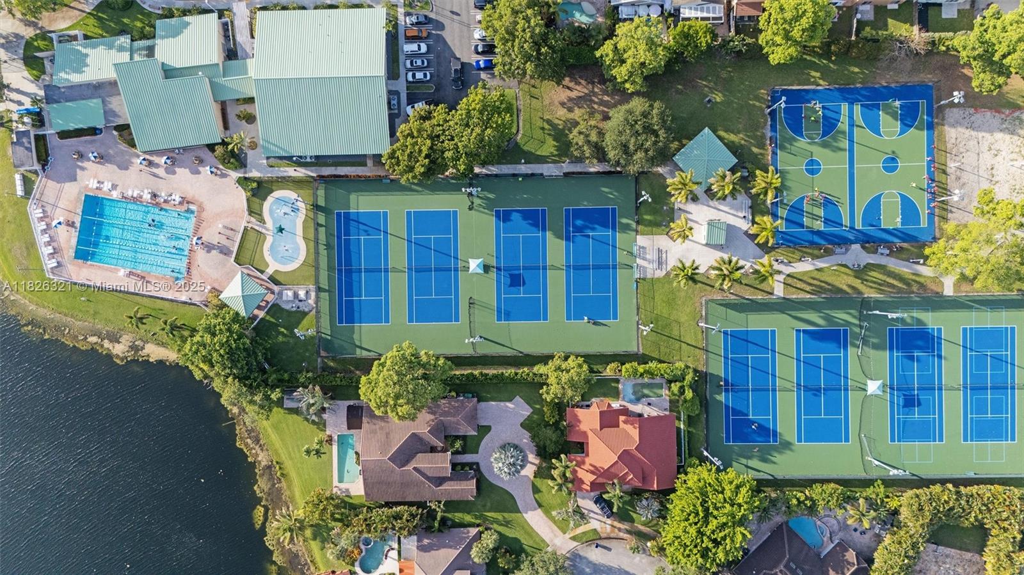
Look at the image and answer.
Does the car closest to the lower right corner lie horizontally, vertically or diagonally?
diagonally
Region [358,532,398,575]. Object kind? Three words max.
swimming pool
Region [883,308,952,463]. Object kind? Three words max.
tennis court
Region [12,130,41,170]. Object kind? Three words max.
building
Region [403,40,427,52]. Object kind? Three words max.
vehicle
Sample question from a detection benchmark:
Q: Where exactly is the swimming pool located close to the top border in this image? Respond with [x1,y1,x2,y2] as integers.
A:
[555,0,597,24]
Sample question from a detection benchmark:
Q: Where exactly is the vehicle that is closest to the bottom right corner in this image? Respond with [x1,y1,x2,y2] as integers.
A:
[592,496,613,519]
